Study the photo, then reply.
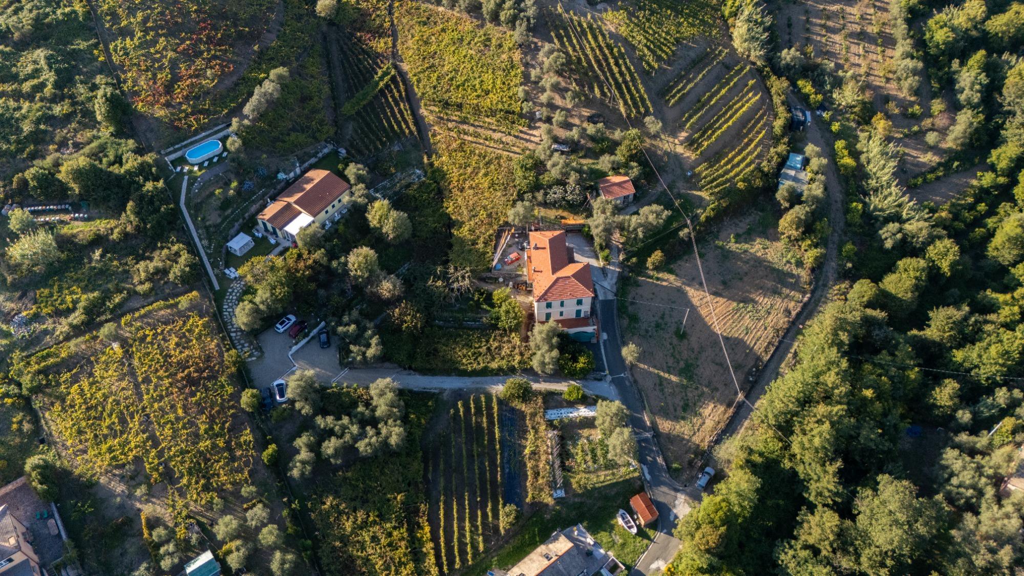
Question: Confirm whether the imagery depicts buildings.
Yes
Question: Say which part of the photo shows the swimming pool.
top left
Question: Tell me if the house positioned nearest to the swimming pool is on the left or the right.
left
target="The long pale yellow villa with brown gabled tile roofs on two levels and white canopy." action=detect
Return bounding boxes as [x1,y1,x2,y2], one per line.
[246,171,351,255]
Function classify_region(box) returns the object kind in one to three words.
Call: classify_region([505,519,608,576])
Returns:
house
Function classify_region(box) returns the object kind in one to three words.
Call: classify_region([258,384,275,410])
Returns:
car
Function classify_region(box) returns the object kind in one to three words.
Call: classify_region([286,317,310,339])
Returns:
car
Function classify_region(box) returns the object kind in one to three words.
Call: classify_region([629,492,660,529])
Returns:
shed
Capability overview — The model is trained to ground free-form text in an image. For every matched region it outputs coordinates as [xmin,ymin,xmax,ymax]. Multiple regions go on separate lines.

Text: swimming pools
[187,142,224,163]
